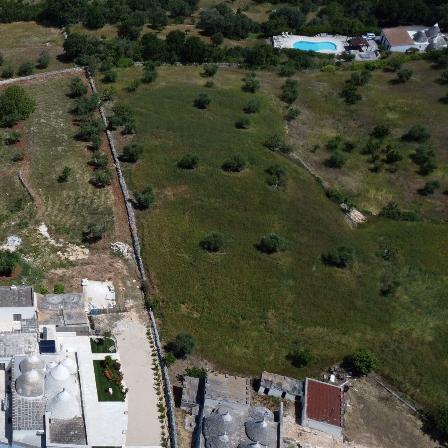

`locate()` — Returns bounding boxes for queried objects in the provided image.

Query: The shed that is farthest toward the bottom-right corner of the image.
[301,380,342,441]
